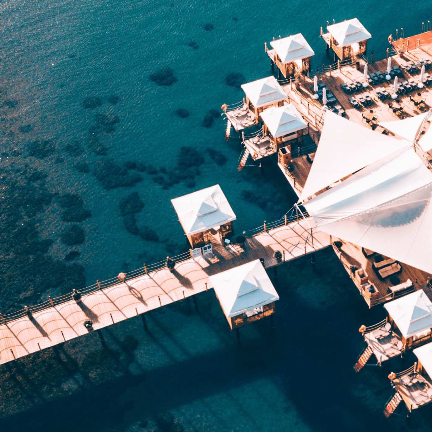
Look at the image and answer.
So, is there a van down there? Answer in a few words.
No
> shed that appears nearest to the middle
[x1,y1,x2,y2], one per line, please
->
[171,185,238,254]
